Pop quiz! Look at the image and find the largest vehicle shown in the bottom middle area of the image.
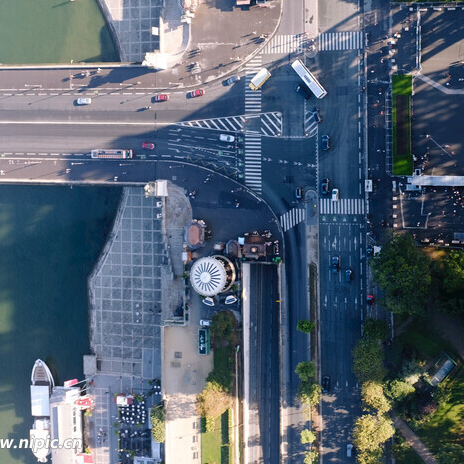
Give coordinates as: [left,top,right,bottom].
[195,329,208,359]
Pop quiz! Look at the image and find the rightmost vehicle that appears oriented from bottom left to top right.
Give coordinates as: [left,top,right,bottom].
[245,65,268,90]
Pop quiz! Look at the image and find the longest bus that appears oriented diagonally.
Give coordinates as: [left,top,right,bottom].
[287,58,325,101]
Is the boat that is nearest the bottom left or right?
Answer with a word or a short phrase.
left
